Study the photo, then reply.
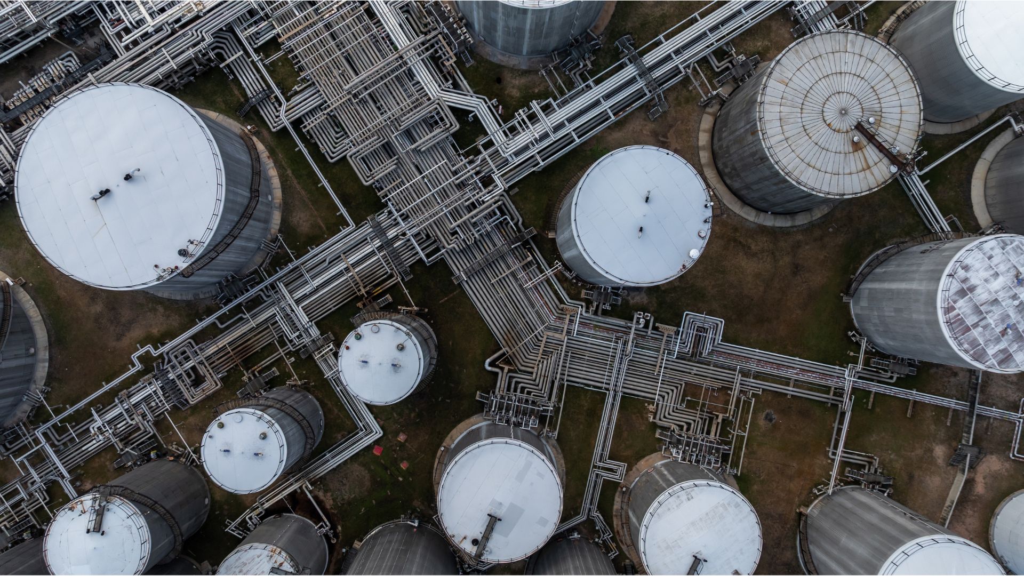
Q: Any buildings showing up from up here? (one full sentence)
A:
No, I can see no building in this picture.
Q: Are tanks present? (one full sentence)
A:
Yes, the frame does contain a tank.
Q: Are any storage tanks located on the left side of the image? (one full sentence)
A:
Yes, I can see a storage tank on the left side of the image.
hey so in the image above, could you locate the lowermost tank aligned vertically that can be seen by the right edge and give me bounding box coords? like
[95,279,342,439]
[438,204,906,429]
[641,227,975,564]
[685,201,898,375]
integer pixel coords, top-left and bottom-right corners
[988,488,1024,566]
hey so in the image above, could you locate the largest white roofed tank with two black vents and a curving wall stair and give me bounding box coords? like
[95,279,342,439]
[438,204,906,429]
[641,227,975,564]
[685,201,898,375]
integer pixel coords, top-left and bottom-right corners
[4,78,282,298]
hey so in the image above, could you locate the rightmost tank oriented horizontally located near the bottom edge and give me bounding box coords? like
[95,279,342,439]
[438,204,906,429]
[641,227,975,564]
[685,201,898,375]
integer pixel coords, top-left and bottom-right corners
[796,483,1017,576]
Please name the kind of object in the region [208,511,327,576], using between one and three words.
storage tank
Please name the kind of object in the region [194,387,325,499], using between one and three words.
storage tank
